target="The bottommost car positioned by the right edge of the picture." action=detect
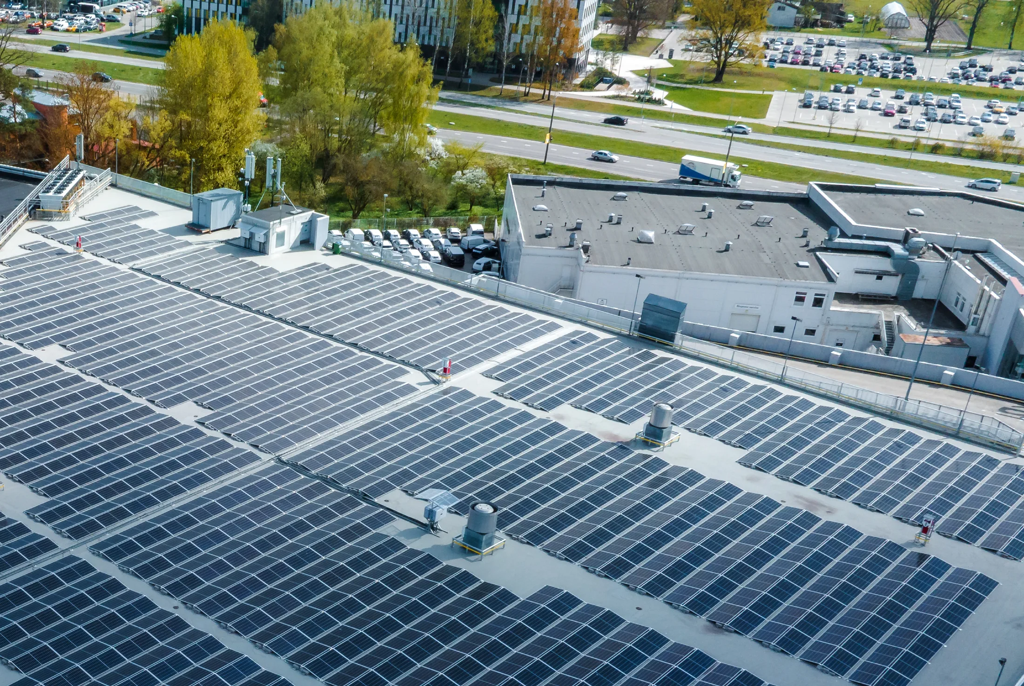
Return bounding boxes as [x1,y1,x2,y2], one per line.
[966,178,1003,192]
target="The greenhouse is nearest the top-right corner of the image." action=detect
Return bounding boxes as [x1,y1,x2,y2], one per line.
[881,0,910,28]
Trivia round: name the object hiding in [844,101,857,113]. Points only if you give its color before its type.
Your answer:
white vehicle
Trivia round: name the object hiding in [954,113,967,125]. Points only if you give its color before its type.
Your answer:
white vehicle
